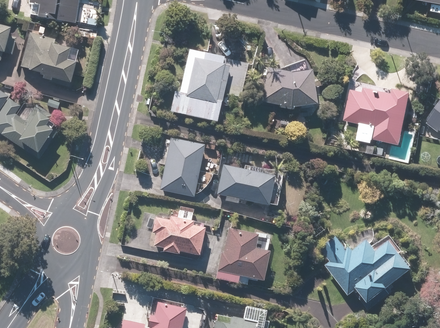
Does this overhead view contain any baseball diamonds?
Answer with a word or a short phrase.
No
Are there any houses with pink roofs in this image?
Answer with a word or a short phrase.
Yes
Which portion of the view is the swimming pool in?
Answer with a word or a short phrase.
right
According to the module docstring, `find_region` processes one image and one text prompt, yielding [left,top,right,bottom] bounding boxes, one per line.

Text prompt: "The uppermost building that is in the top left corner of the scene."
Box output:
[30,0,80,24]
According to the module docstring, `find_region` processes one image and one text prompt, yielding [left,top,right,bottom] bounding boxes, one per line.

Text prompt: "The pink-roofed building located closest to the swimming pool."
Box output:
[343,86,408,146]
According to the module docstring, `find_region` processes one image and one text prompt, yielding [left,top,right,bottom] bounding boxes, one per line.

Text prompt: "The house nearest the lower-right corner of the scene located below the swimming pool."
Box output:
[324,236,410,304]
